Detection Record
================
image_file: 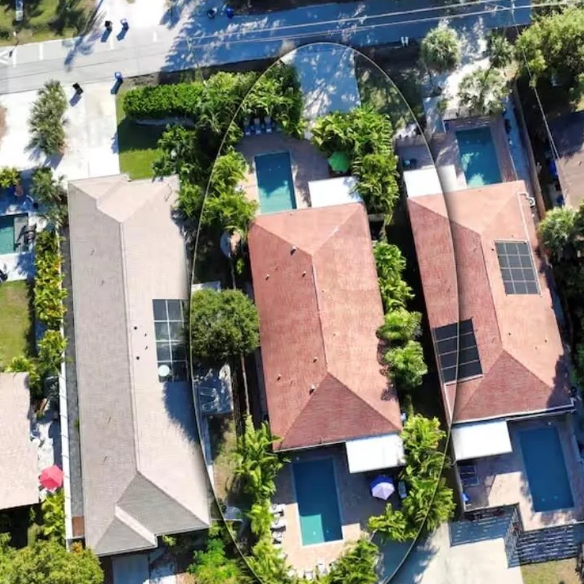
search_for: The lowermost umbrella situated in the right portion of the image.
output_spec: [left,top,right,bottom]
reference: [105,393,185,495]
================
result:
[370,475,396,500]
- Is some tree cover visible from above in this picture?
Yes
